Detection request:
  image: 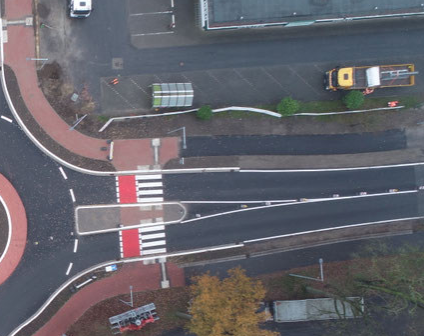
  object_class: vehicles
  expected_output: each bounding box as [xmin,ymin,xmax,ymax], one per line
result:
[252,296,369,324]
[320,64,418,92]
[67,0,93,21]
